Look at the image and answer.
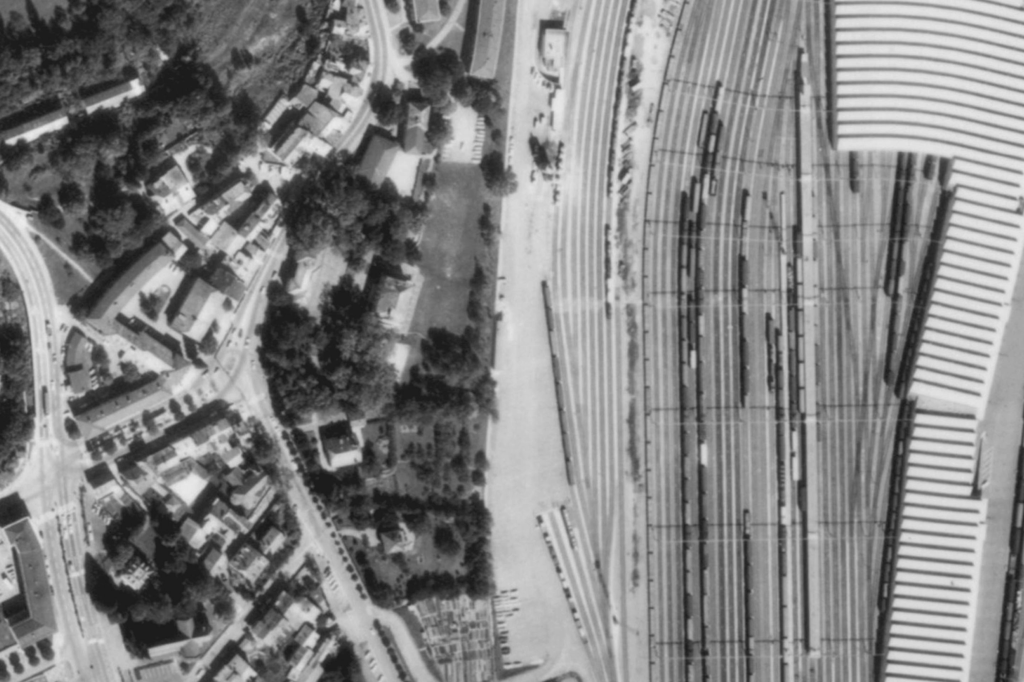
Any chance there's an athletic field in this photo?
Yes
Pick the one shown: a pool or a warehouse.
warehouse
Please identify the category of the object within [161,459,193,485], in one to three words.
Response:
building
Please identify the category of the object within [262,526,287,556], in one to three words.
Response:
house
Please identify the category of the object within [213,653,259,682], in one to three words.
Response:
house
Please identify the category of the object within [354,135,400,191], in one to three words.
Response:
building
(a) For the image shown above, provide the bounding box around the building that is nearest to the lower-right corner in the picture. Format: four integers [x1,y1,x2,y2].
[877,409,988,682]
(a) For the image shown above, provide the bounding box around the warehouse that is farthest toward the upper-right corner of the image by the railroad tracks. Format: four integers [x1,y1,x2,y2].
[838,0,1024,172]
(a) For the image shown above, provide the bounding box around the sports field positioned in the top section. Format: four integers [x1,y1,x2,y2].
[409,162,483,339]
